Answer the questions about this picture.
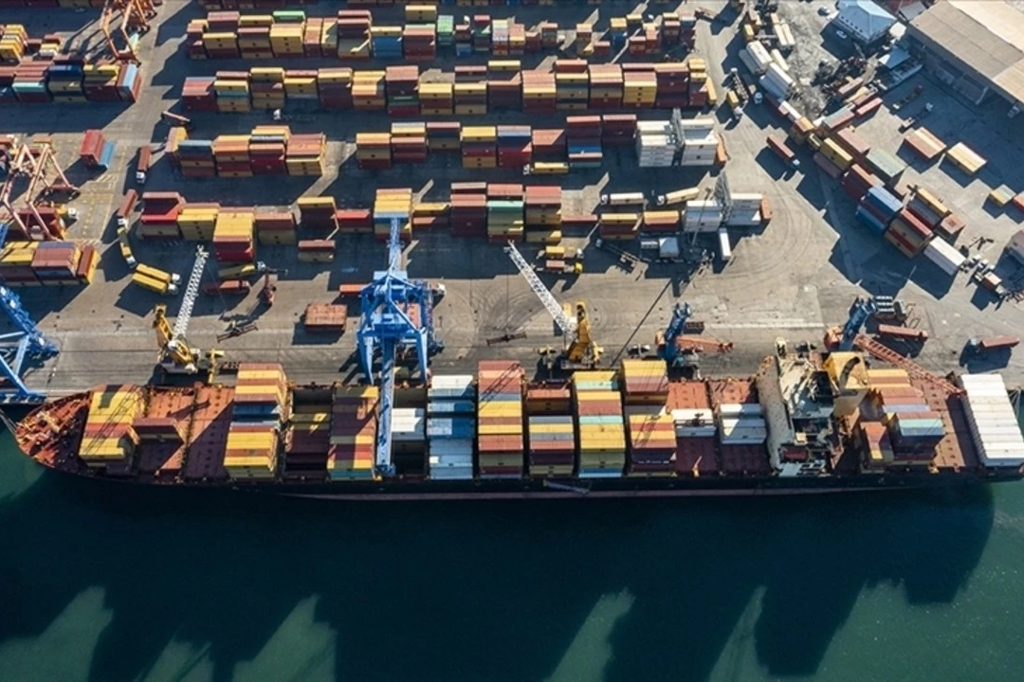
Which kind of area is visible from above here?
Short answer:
port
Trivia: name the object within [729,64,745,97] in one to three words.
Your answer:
vehicle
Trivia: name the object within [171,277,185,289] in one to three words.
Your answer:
vehicle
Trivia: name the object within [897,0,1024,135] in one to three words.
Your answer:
warehouse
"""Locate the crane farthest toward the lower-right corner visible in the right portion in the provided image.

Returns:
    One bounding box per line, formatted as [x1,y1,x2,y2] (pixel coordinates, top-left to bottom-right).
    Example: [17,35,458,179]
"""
[800,297,969,390]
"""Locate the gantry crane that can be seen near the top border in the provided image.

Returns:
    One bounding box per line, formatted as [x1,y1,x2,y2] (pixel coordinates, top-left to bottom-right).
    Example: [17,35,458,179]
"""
[92,0,155,62]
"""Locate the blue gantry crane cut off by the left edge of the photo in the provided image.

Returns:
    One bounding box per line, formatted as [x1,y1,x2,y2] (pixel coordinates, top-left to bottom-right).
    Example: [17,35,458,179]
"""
[0,295,62,389]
